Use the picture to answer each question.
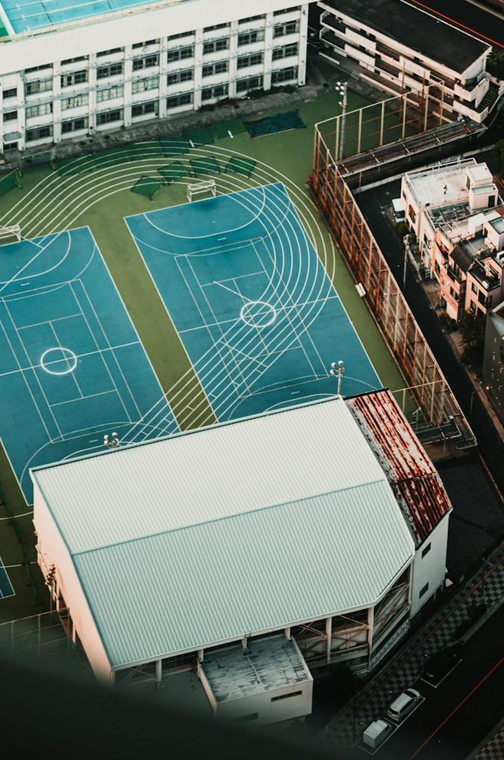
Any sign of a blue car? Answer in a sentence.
No, the photo shows no blue car.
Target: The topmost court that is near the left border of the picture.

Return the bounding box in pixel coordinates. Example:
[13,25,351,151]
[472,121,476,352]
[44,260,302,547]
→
[0,226,179,505]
